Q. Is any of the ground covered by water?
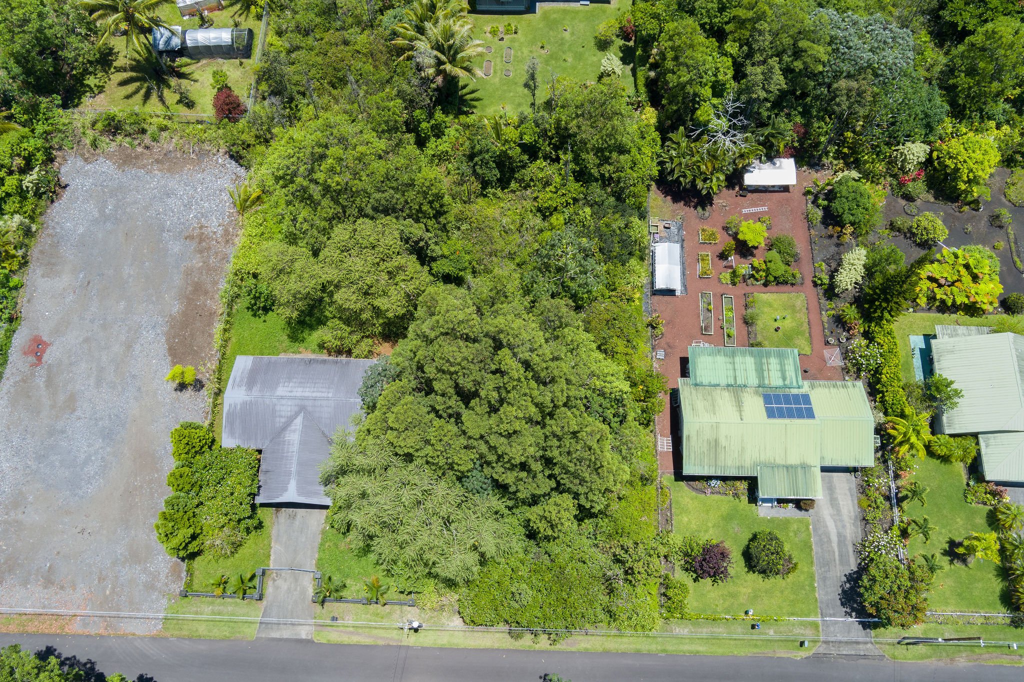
No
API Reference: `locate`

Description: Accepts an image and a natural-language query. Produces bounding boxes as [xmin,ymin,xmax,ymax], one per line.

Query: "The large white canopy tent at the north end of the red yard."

[738,159,797,195]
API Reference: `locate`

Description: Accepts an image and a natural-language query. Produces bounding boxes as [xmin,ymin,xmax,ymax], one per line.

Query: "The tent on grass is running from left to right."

[179,30,259,62]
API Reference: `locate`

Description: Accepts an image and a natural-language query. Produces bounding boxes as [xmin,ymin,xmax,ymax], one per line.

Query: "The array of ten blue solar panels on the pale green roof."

[762,392,816,418]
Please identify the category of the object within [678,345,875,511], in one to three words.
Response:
house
